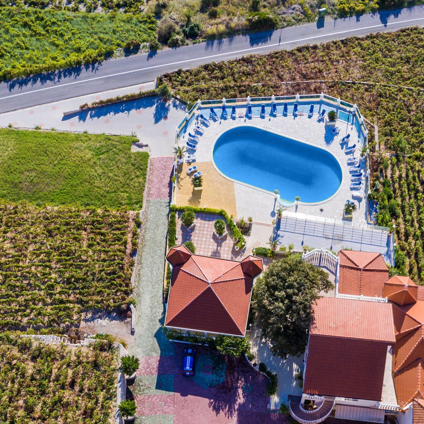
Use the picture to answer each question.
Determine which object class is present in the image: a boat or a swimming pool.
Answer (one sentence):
It is a swimming pool that can be seen here.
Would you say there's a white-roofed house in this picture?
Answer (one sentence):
No, there's no white-roofed house here.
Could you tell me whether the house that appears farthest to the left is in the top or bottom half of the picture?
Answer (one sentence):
The bottom half of the photo is where the house that appears farthest to the left is.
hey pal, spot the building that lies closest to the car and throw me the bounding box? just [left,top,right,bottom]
[164,244,263,340]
